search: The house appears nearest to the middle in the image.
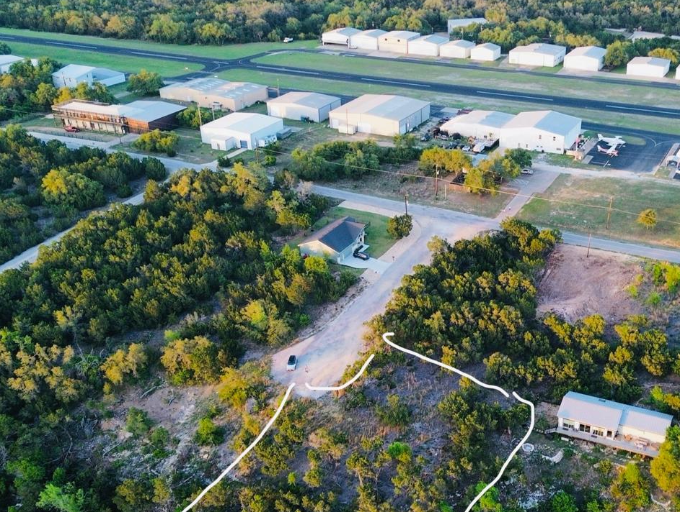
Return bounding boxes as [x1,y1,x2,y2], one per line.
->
[297,218,379,263]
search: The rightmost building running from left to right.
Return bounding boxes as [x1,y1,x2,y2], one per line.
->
[627,55,672,77]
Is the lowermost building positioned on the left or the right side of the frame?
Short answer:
right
